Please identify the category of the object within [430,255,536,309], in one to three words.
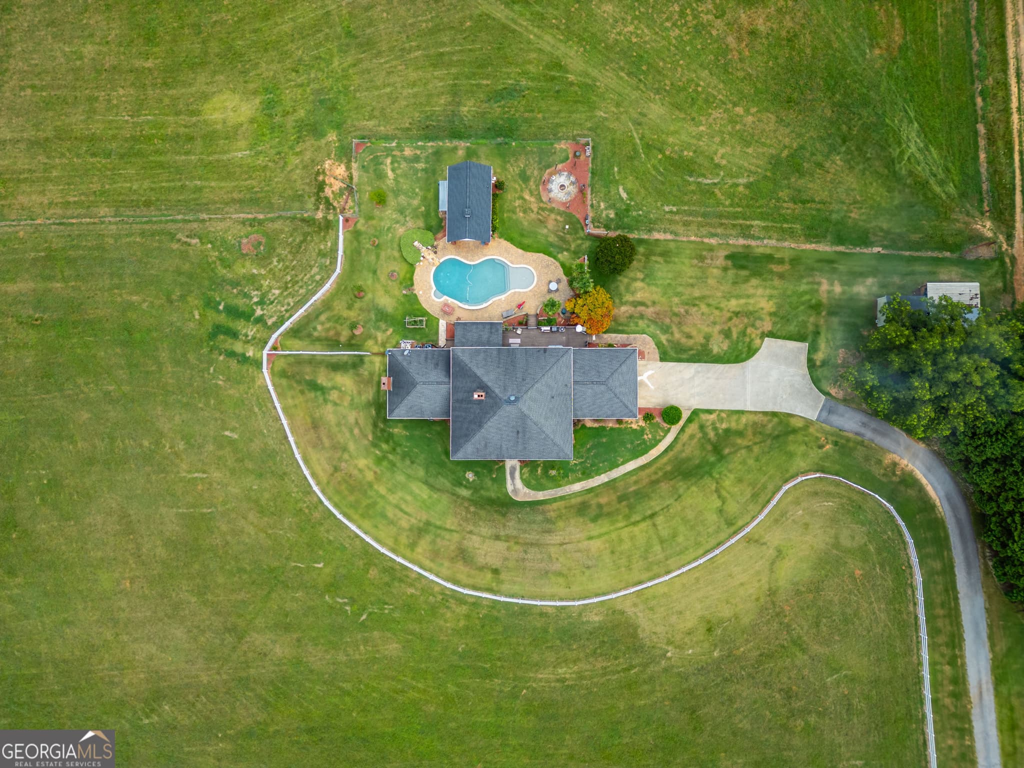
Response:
swimming pool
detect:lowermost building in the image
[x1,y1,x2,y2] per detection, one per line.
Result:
[381,321,638,460]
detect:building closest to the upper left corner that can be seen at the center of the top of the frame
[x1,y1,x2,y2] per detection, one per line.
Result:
[438,161,492,248]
